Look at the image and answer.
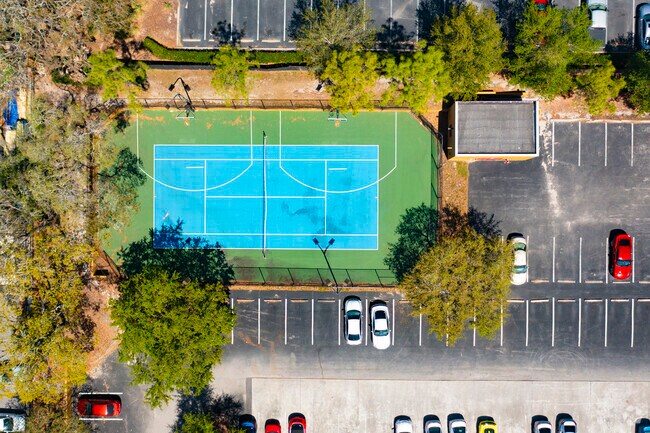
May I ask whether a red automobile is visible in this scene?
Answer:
Yes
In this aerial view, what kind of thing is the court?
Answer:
tennis court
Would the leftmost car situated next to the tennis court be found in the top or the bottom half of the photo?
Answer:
bottom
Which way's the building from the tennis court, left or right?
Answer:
on its right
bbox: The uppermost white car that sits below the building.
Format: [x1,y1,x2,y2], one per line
[508,238,530,285]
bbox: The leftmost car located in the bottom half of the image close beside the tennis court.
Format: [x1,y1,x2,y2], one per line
[342,298,363,345]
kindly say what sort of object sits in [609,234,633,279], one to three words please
car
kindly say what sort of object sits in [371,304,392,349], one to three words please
car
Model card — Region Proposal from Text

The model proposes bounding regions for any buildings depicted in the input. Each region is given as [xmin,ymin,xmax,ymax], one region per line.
[448,100,540,161]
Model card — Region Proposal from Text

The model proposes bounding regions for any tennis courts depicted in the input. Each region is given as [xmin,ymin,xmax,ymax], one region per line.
[93,107,439,286]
